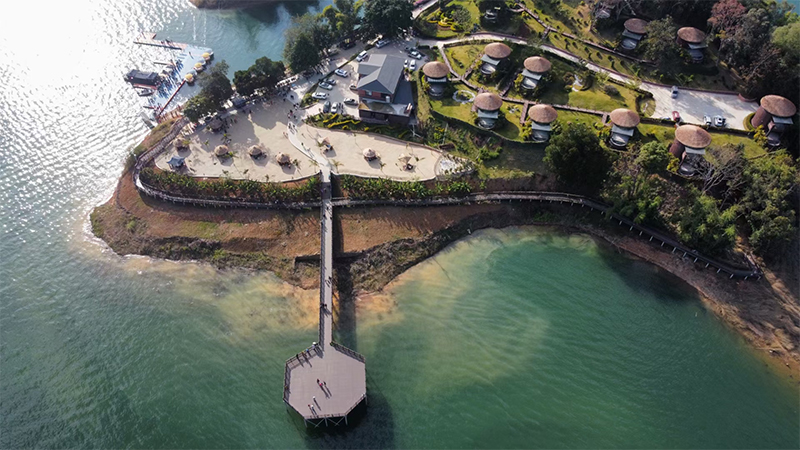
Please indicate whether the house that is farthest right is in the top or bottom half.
top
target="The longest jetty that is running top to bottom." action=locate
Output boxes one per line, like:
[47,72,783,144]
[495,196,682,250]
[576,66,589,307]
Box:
[284,172,367,424]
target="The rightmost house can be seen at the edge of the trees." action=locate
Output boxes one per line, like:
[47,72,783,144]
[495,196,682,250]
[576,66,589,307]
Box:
[750,95,799,145]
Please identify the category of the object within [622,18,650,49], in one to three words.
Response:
house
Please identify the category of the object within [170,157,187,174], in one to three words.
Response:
gazebo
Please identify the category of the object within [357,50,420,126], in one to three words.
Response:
house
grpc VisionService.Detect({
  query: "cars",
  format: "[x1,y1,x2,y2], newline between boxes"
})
[312,90,327,99]
[408,51,422,59]
[672,110,682,122]
[341,38,355,48]
[670,84,679,98]
[318,82,333,90]
[330,102,340,112]
[322,101,332,112]
[355,51,369,60]
[334,69,348,77]
[403,59,409,68]
[657,115,675,123]
[702,115,712,126]
[322,77,338,85]
[713,114,724,127]
[347,83,359,91]
[327,45,341,55]
[409,59,416,70]
[404,45,419,52]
